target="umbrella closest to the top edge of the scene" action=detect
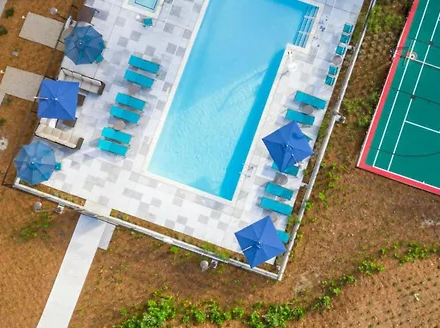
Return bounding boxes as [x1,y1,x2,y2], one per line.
[66,26,105,65]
